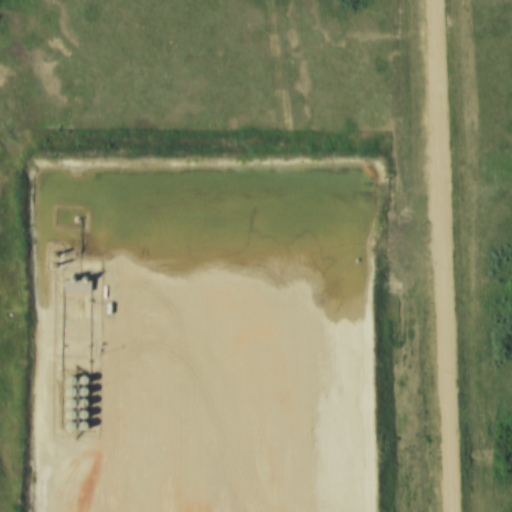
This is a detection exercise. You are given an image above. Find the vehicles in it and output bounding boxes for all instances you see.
[102,286,108,300]
[106,302,112,316]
